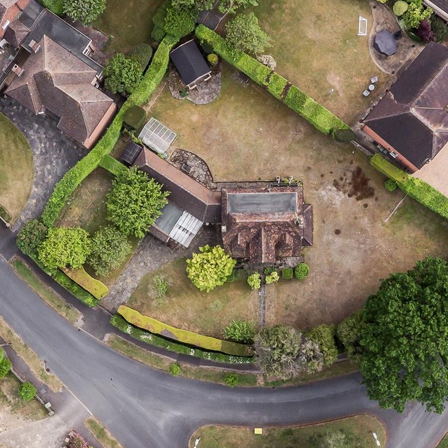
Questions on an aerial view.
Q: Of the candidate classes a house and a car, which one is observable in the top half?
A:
house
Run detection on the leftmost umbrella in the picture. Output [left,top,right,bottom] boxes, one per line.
[371,30,398,56]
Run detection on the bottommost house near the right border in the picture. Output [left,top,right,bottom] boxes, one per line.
[362,43,448,172]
